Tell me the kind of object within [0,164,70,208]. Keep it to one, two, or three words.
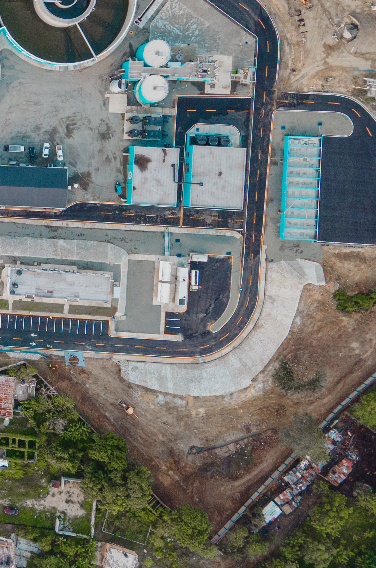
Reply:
building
